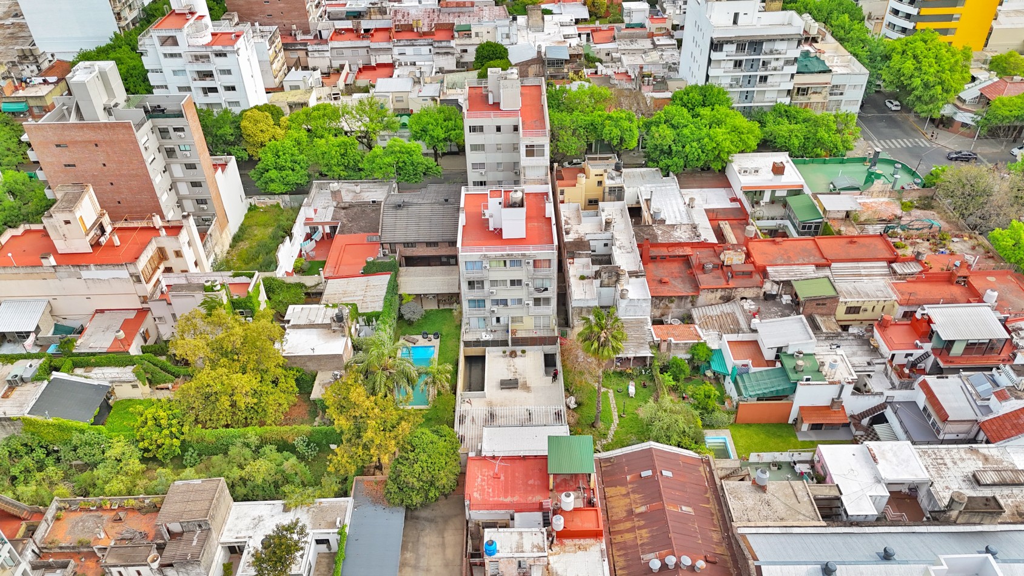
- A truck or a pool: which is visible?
pool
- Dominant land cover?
buildings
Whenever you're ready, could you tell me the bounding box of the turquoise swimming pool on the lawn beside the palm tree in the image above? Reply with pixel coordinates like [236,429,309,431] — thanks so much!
[389,335,443,412]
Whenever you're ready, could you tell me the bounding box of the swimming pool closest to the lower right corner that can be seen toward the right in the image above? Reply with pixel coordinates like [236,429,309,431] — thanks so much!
[704,429,738,460]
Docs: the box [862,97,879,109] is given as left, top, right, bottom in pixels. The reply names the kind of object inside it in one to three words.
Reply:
vehicle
